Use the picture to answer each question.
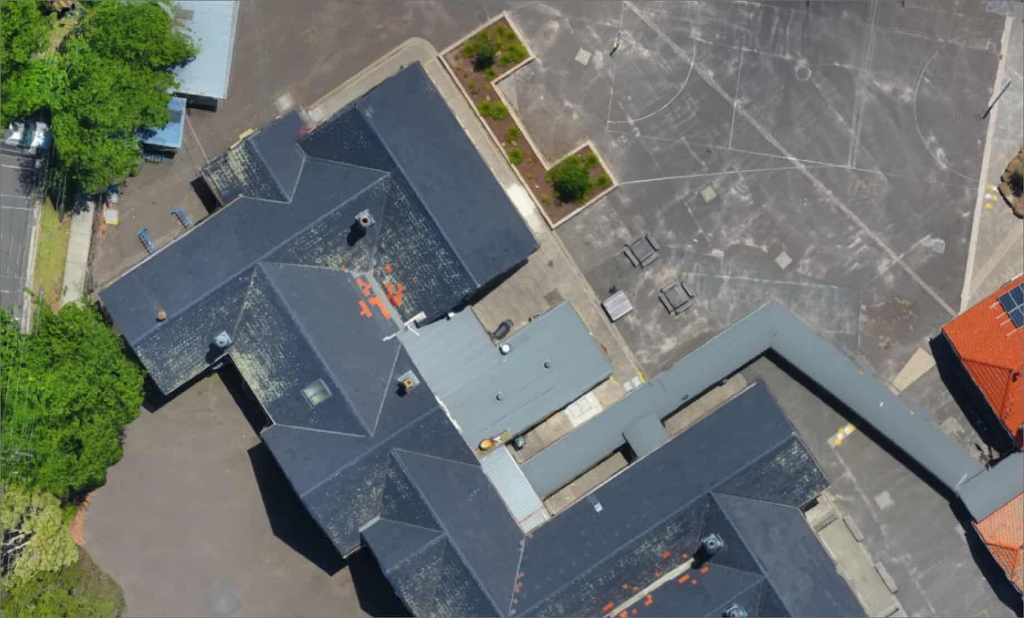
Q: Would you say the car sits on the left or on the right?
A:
left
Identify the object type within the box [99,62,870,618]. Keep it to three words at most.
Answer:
building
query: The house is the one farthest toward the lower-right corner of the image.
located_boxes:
[972,491,1024,601]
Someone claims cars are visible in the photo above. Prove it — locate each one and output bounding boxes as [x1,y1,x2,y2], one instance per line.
[0,122,50,152]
